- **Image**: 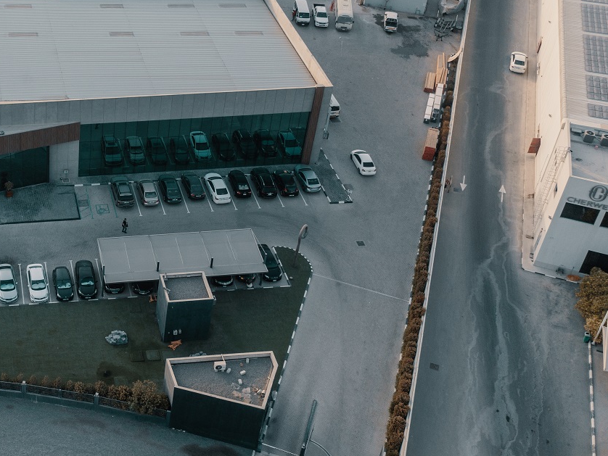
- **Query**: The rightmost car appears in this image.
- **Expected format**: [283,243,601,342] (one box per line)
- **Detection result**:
[510,52,529,73]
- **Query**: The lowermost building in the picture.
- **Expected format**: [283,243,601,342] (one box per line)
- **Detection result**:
[163,351,278,450]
